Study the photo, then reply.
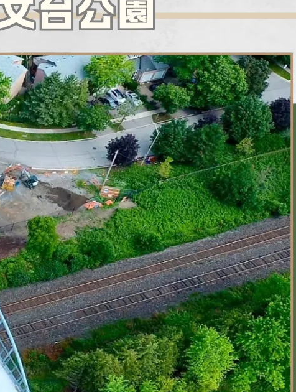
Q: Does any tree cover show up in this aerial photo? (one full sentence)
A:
Yes, the picture does contain tree cover.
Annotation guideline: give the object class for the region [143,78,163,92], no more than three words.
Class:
car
